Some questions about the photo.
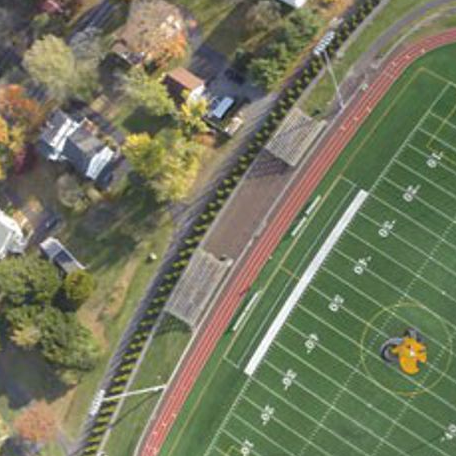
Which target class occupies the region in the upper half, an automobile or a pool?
automobile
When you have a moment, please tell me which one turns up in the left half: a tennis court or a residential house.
residential house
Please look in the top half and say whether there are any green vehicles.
No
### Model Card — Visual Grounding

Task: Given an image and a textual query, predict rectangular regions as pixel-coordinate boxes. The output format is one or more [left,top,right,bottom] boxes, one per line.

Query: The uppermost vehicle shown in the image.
[225,68,244,82]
